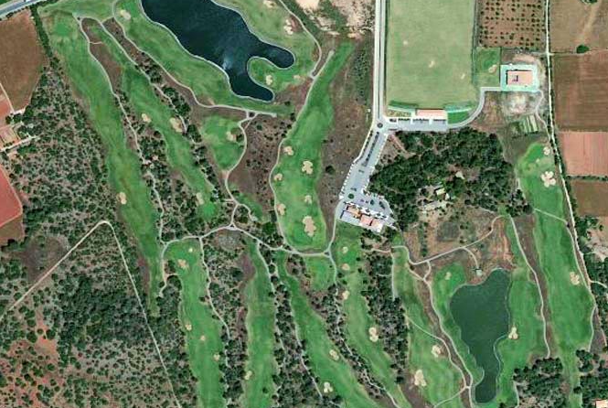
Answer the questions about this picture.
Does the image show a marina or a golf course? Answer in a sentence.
It's a golf course.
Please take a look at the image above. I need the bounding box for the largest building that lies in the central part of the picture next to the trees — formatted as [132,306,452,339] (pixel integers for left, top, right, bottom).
[337,200,386,234]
